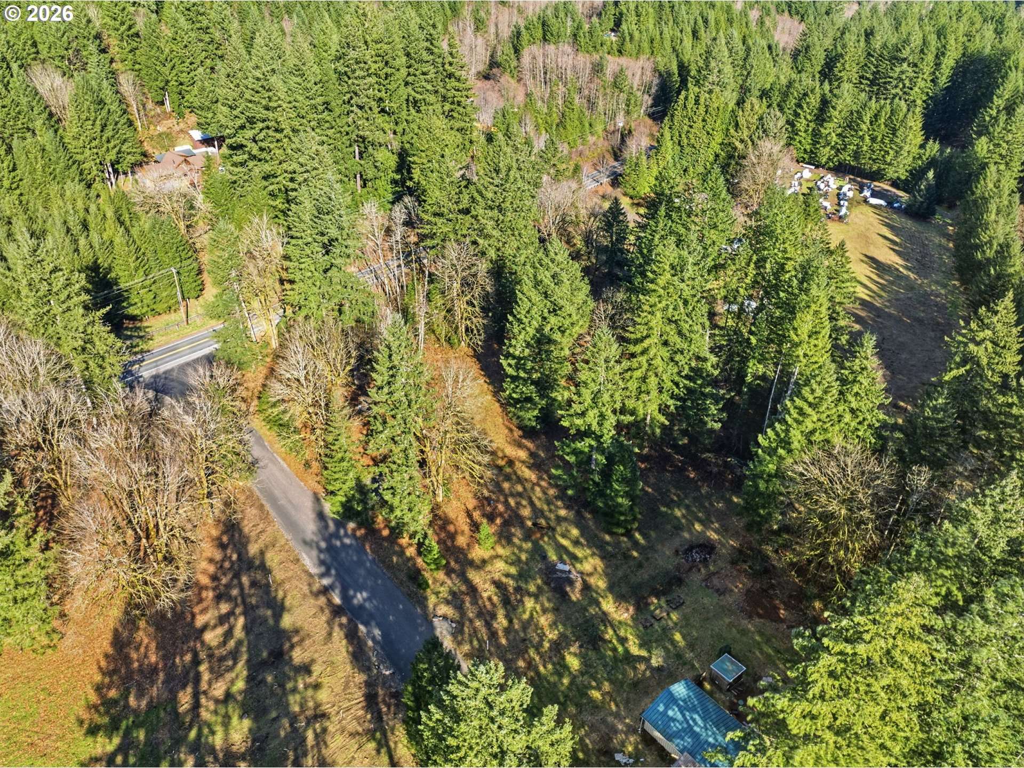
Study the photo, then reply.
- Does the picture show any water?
No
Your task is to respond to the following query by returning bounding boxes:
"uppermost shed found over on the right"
[708,650,744,694]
